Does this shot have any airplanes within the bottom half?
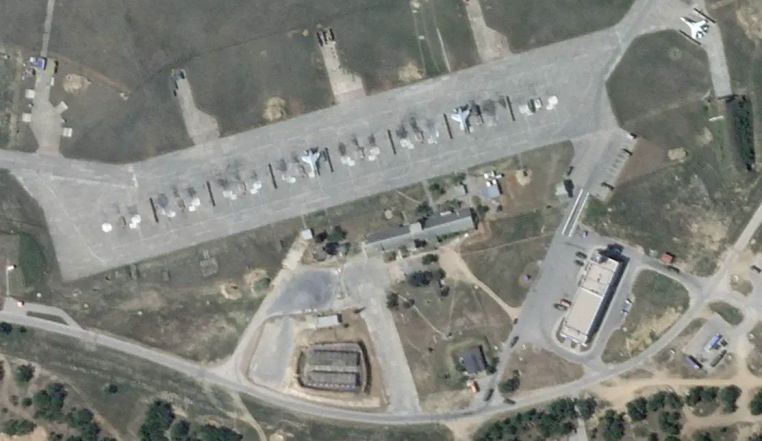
No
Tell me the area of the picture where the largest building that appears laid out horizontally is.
center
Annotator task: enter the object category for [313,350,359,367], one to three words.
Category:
shed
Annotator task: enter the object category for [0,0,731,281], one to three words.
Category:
airport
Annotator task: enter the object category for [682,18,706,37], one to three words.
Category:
airplane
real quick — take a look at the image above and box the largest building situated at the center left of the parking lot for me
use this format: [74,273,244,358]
[363,210,474,254]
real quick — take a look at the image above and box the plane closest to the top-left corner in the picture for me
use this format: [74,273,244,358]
[301,149,320,175]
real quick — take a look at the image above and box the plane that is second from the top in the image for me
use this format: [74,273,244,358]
[451,106,469,132]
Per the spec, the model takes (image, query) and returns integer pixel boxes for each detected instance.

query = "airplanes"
[682,18,706,37]
[451,106,469,132]
[301,149,320,175]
